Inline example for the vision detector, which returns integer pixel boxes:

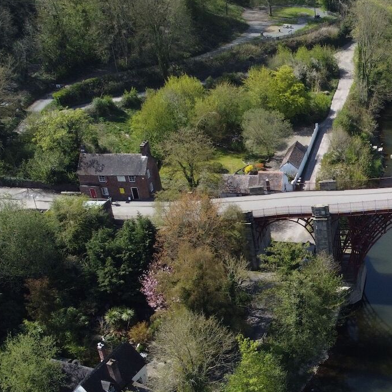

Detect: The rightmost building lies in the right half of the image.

[281,137,312,186]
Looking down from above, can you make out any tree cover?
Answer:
Yes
